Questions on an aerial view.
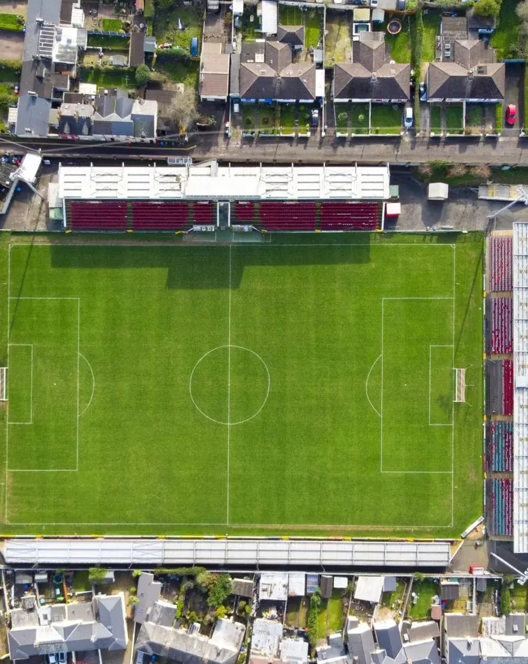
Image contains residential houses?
Yes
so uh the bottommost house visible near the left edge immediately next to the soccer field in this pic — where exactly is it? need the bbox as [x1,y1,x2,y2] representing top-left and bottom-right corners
[8,591,129,661]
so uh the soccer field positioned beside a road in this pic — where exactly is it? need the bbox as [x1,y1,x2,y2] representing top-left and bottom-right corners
[0,231,485,538]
